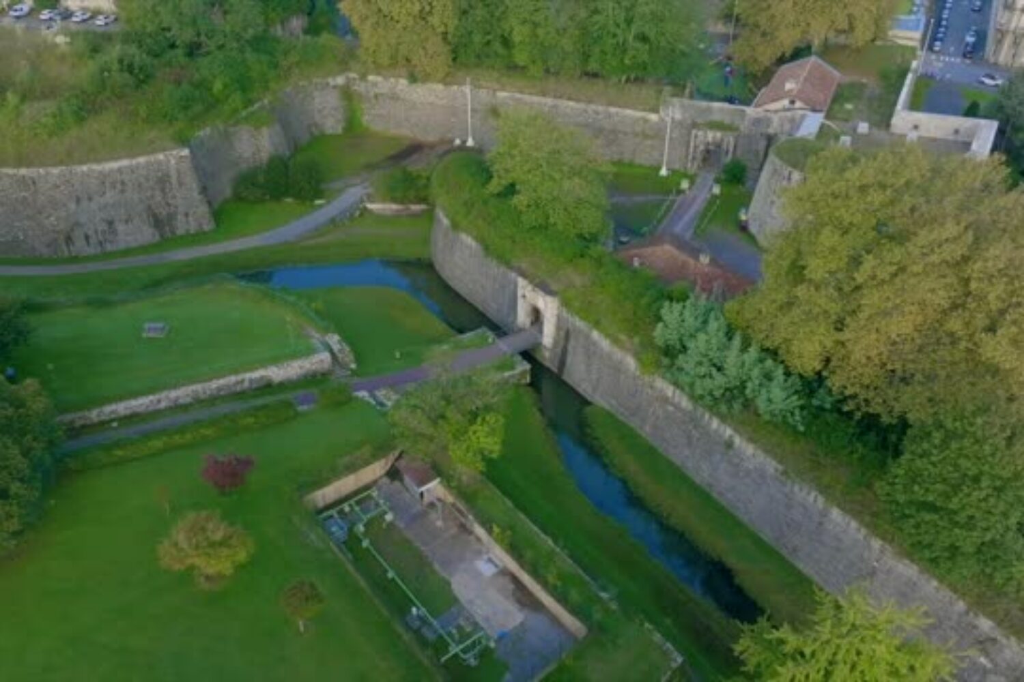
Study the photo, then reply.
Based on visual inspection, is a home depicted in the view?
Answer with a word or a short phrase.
Yes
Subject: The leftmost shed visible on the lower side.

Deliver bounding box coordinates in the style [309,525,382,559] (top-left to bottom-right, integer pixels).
[396,456,442,505]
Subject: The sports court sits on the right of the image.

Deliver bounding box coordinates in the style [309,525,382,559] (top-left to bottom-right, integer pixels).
[888,0,927,48]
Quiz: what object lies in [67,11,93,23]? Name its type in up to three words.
vehicle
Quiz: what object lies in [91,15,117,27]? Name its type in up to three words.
vehicle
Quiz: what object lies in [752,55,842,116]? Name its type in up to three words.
house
